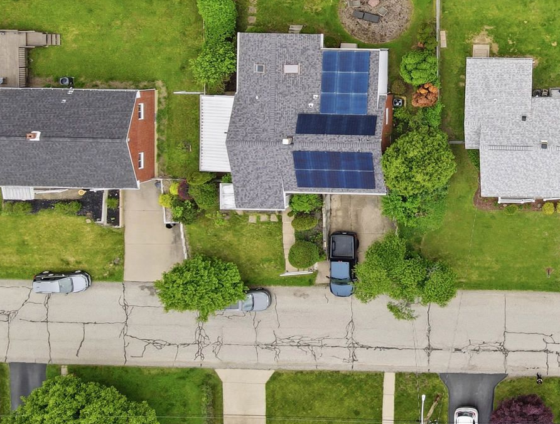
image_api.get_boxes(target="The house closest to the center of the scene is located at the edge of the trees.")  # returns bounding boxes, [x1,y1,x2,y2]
[222,31,391,210]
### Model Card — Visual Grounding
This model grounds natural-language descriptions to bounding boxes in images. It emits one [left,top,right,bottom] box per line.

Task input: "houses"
[222,31,391,210]
[0,87,161,193]
[463,57,560,204]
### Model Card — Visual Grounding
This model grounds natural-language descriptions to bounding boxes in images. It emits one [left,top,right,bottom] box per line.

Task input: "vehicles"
[28,269,93,298]
[218,287,270,316]
[453,405,479,424]
[322,229,355,295]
